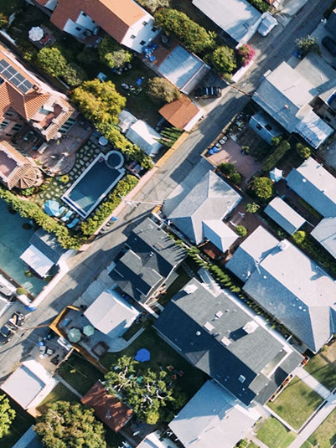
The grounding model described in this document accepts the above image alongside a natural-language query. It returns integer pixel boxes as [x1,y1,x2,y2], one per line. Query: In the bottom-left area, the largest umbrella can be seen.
[67,327,83,343]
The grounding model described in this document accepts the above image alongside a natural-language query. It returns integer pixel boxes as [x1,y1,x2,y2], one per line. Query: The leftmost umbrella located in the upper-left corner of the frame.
[28,26,46,42]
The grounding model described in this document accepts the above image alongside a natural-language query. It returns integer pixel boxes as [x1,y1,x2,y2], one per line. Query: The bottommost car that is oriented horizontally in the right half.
[195,85,222,98]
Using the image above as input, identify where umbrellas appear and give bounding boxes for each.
[45,199,61,216]
[83,324,95,336]
[28,26,46,42]
[67,327,83,343]
[270,167,284,182]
